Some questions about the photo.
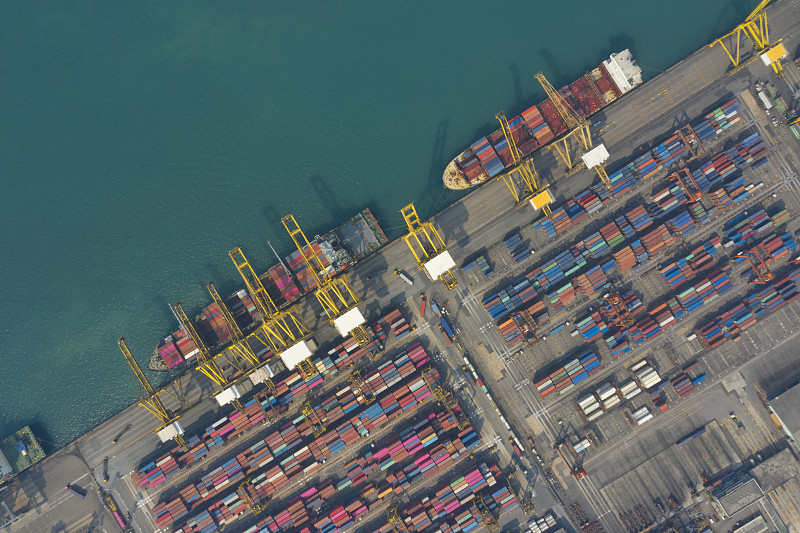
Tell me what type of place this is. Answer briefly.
port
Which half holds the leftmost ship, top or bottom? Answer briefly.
bottom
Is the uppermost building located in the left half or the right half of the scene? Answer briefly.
right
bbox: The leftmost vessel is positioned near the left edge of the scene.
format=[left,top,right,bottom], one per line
[0,425,101,483]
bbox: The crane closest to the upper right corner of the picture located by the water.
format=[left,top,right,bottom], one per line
[710,0,796,89]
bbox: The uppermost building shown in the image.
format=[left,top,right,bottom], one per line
[762,379,800,465]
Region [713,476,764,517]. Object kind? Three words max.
building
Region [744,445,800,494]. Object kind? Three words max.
shed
